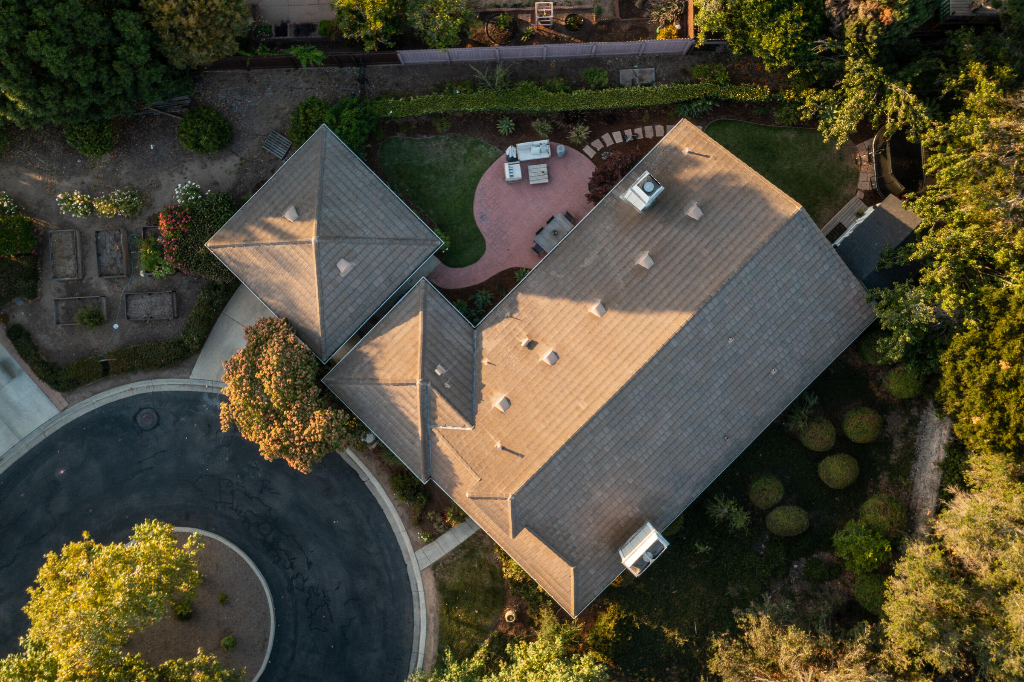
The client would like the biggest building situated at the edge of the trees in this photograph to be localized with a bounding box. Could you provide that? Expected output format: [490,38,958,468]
[319,118,878,621]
